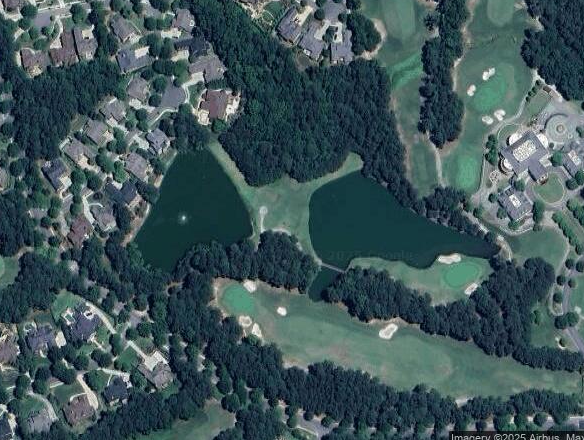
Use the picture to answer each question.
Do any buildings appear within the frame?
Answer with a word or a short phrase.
Yes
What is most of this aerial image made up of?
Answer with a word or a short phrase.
trees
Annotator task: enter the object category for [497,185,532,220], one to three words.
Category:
building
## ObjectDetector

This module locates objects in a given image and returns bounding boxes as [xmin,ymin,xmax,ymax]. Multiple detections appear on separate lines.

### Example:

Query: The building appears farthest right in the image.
[560,147,584,178]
